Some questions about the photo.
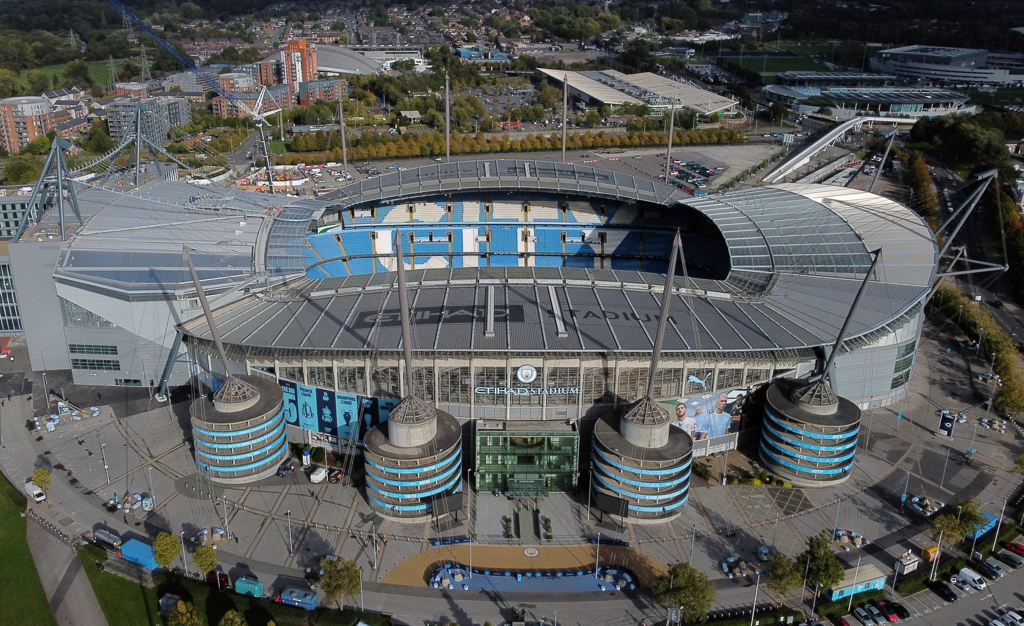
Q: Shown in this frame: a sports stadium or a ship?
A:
sports stadium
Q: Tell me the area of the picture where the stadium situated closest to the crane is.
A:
center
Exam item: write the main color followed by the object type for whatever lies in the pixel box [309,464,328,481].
white vehicle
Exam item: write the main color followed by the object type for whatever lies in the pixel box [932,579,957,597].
black car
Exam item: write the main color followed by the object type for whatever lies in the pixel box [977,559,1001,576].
black car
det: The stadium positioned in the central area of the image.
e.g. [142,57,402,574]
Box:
[53,159,952,472]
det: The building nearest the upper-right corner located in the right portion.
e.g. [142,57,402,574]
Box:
[868,45,1024,85]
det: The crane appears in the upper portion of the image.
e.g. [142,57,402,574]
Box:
[110,0,285,180]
